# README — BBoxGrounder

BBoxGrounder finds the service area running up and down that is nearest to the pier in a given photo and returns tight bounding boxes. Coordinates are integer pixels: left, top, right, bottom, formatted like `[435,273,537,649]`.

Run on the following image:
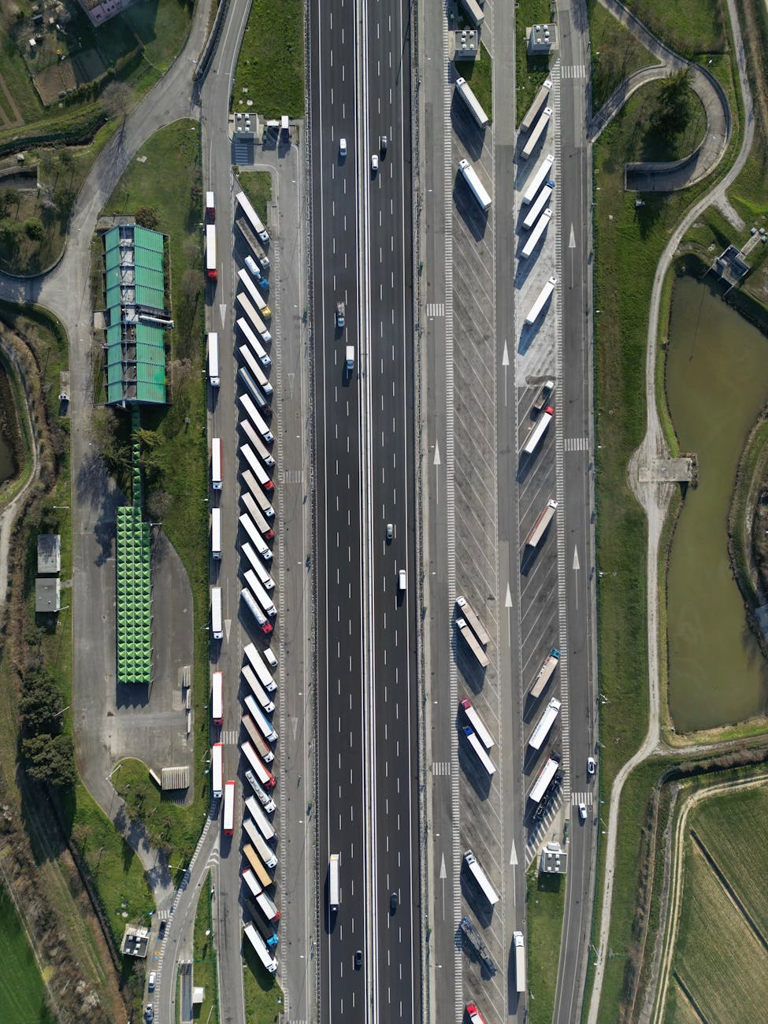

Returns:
[423,0,594,1024]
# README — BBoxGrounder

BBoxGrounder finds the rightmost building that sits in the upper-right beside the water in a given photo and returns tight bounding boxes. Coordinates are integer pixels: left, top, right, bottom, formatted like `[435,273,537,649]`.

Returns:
[702,244,755,294]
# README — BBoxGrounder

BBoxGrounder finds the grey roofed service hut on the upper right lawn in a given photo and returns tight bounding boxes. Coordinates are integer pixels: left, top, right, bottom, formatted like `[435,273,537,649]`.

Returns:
[531,23,556,50]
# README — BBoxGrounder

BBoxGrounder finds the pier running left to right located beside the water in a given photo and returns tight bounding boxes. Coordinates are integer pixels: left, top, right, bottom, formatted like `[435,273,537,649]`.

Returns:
[639,458,692,482]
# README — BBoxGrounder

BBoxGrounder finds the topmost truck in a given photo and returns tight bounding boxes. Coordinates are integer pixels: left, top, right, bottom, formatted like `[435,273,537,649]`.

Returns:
[459,0,484,30]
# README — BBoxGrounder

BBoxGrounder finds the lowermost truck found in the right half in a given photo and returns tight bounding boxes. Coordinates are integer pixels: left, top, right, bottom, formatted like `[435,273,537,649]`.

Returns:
[466,994,489,1024]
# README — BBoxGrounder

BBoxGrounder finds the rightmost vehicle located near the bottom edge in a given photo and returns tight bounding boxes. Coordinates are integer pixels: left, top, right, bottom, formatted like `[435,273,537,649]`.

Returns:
[513,926,525,992]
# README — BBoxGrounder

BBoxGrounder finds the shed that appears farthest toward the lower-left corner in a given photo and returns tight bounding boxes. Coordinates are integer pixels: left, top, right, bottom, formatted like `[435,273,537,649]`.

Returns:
[123,919,153,957]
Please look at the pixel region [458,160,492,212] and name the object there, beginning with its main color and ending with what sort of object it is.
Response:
white truck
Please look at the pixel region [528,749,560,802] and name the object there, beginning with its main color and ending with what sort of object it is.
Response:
white truck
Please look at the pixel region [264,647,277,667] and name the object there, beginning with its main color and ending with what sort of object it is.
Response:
white vehicle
